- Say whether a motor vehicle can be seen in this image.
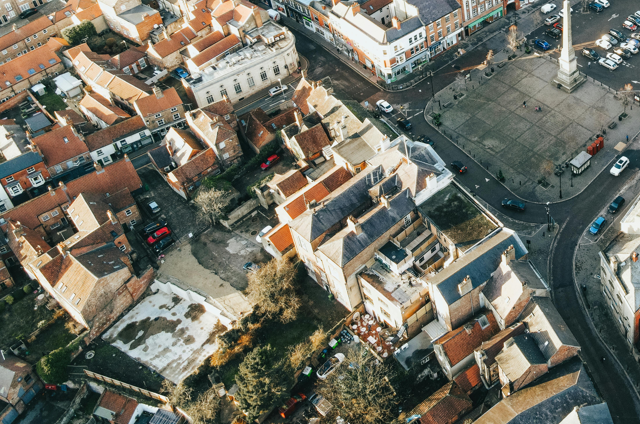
Yes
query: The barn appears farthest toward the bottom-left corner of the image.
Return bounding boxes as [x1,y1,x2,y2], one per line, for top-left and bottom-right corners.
[0,344,48,419]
